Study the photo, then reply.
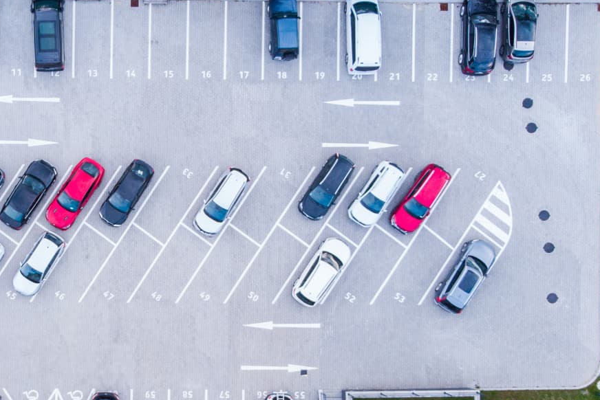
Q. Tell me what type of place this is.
parking lot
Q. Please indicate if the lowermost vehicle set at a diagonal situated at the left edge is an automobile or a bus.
automobile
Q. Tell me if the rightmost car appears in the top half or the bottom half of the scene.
top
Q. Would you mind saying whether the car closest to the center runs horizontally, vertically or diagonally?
diagonally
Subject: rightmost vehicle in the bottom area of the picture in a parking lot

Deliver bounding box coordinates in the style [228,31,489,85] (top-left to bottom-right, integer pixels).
[431,237,494,316]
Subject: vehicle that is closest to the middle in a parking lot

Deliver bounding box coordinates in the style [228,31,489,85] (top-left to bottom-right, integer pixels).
[296,152,355,221]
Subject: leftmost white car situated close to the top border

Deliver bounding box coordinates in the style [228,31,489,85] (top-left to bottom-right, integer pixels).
[345,0,385,75]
